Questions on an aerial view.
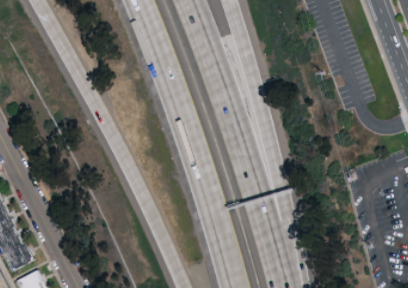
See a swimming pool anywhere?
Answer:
No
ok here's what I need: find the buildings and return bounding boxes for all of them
[16,269,50,288]
[0,192,35,268]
